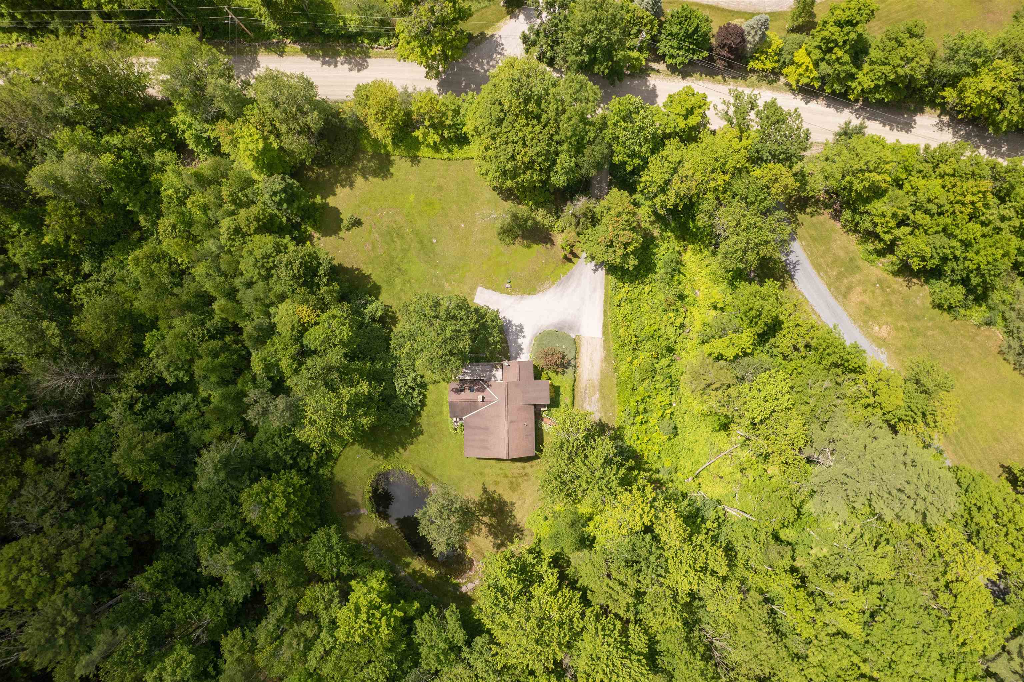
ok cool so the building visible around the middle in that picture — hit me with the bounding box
[449,360,558,459]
